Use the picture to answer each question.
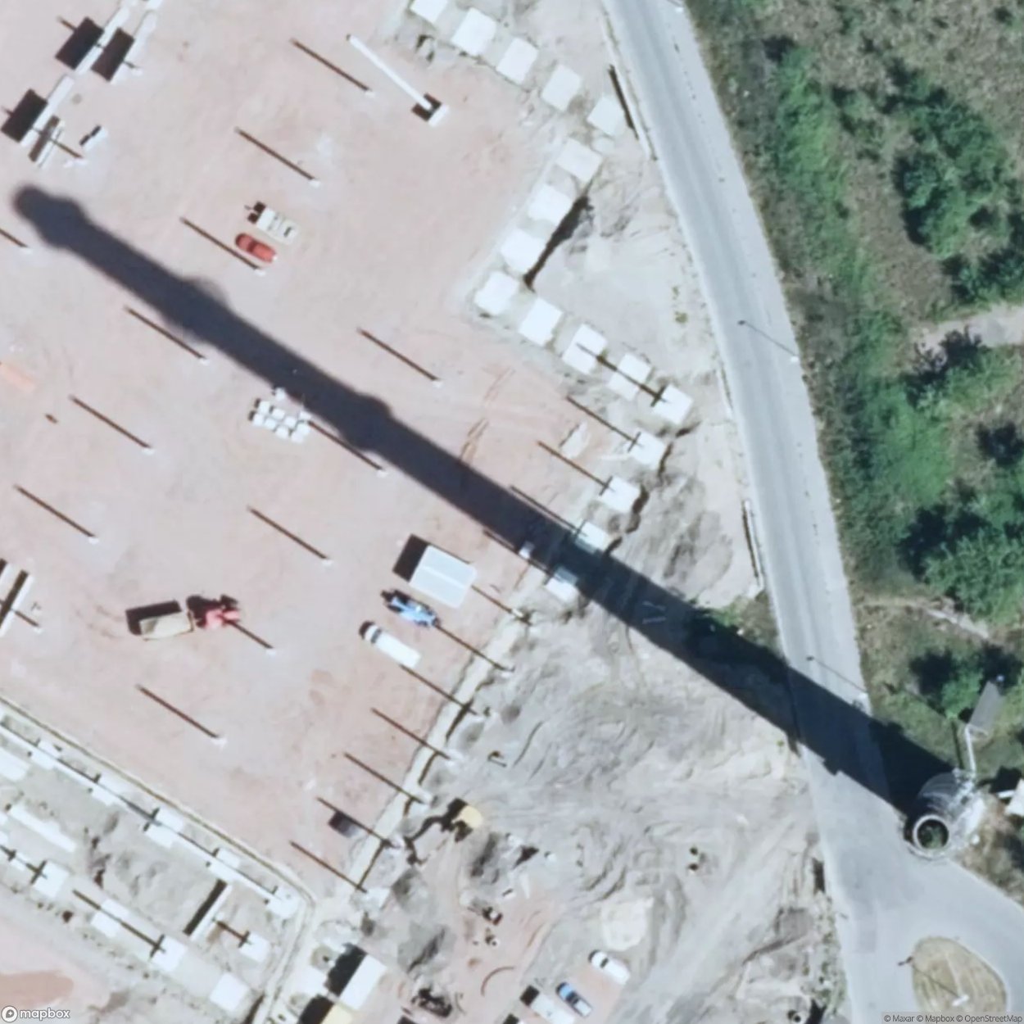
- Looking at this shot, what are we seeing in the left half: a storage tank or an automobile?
automobile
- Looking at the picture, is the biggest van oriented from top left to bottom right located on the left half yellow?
No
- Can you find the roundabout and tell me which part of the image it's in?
bottom right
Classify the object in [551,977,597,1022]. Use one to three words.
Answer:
vehicle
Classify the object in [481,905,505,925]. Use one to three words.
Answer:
work vehicle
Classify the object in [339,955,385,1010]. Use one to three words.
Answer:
building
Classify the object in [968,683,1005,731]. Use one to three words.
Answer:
shed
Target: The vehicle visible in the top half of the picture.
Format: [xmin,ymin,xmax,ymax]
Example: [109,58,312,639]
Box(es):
[232,230,279,266]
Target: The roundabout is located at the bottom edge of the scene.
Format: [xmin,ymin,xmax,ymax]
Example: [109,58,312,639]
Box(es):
[912,936,1006,1024]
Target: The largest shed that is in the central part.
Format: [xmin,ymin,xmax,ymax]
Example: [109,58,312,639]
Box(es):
[410,545,476,607]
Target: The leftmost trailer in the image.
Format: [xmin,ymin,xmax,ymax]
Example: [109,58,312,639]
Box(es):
[140,611,199,639]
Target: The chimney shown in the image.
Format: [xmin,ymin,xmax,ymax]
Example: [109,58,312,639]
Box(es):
[902,770,992,861]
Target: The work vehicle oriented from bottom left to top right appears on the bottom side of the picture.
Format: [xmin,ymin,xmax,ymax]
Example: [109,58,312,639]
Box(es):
[413,800,481,869]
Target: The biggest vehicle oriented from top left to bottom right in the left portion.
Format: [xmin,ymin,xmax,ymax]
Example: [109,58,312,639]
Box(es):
[360,619,425,671]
